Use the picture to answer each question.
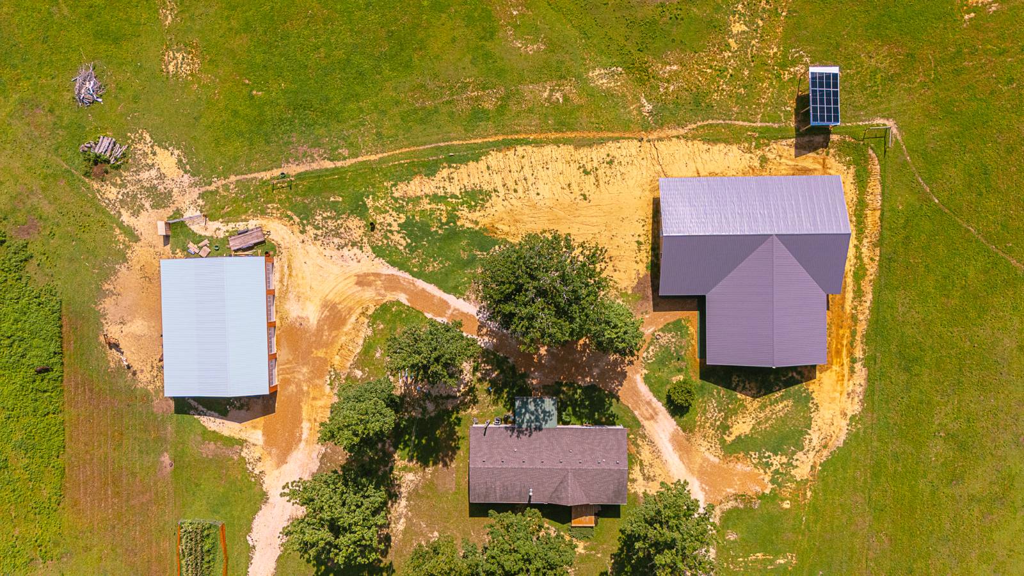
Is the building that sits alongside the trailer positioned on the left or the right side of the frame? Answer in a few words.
left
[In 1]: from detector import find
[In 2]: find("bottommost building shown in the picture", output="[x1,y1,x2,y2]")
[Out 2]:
[469,388,629,507]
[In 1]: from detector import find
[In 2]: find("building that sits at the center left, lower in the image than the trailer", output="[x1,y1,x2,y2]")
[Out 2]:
[160,258,280,394]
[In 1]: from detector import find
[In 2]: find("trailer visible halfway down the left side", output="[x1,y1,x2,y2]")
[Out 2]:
[225,224,270,253]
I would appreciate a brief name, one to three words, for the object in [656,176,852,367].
barn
